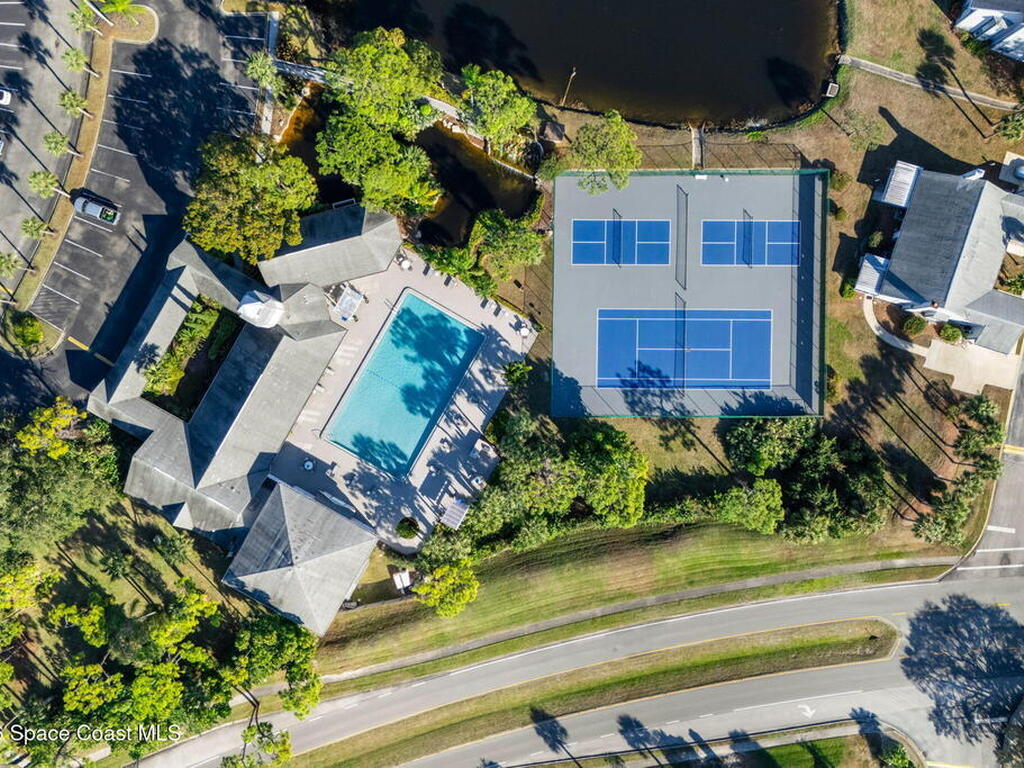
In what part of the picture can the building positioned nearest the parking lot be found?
left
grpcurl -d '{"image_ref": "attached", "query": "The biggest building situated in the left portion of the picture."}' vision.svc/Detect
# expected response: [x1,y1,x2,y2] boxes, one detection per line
[87,205,401,531]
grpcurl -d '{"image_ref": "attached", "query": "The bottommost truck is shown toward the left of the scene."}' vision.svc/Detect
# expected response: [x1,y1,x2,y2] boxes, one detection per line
[72,194,118,220]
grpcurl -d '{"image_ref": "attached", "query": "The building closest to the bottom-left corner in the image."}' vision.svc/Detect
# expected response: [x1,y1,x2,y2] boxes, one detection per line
[222,477,380,636]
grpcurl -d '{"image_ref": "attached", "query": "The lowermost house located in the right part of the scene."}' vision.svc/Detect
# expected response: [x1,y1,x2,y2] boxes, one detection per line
[849,162,1024,355]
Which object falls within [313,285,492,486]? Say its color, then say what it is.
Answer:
blue swimming pool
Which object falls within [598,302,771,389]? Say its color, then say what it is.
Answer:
blue tennis court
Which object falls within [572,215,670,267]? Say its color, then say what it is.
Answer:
blue sports court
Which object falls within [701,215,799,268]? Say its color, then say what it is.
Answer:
blue sports court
